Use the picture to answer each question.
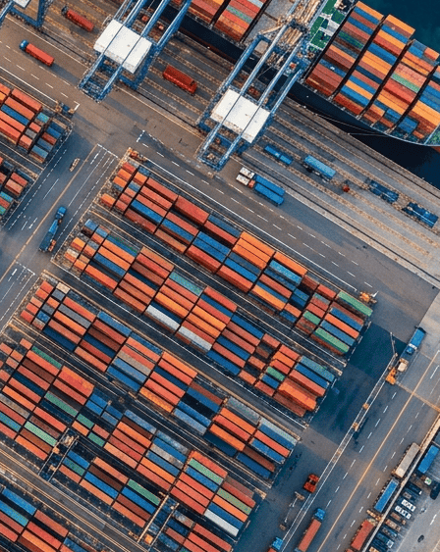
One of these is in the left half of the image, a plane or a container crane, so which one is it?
container crane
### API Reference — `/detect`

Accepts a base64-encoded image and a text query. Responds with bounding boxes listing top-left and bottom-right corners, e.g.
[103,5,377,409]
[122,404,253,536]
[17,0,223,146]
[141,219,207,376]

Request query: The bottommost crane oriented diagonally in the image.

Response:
[129,493,179,552]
